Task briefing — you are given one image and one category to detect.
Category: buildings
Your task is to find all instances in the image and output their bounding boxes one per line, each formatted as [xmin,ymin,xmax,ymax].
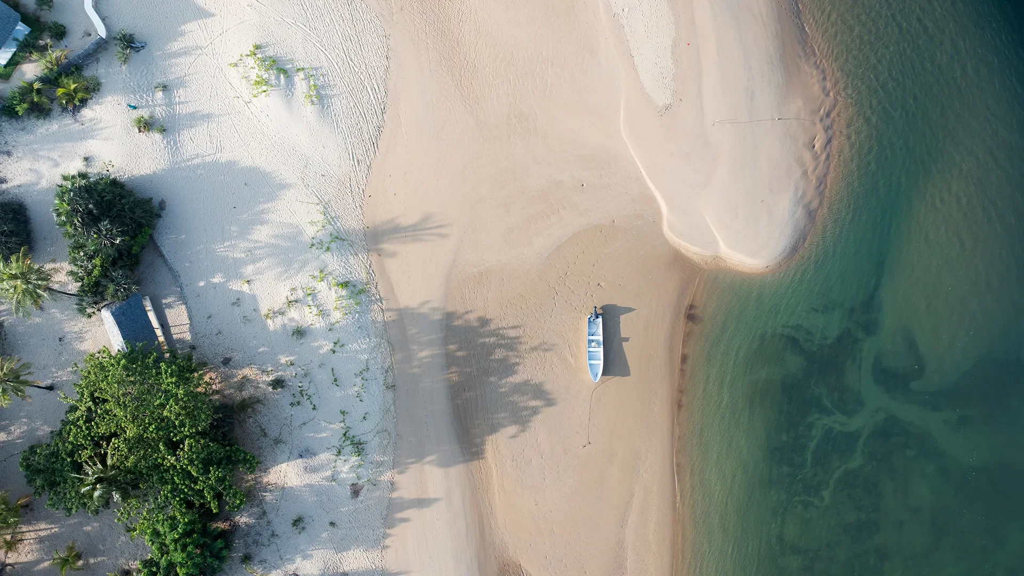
[90,293,171,368]
[0,3,22,59]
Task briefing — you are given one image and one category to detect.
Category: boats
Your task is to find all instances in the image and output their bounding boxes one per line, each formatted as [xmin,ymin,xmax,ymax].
[588,317,605,383]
